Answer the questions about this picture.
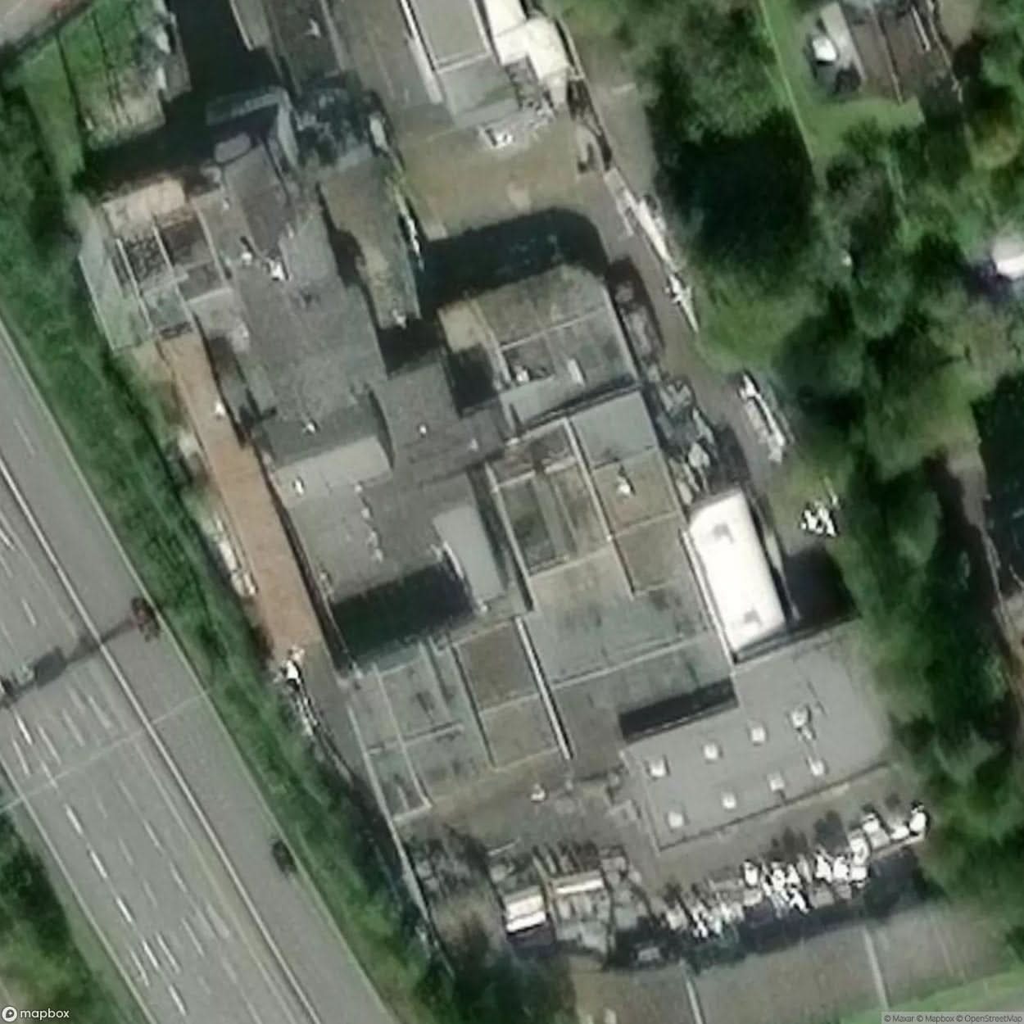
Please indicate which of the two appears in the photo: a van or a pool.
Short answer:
van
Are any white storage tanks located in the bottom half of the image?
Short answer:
No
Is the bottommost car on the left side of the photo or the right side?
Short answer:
left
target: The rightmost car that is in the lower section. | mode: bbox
[268,838,297,874]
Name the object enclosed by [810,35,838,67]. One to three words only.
van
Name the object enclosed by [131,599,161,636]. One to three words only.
car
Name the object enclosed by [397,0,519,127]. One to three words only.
building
